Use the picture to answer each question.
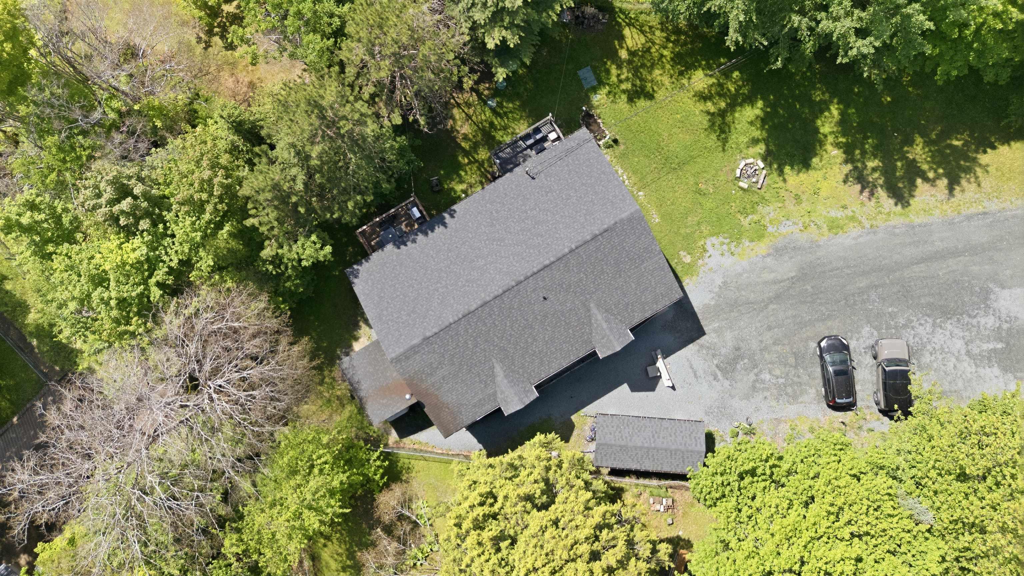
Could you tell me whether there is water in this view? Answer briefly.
No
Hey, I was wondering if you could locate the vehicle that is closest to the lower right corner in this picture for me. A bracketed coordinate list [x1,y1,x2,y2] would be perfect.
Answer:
[871,338,916,412]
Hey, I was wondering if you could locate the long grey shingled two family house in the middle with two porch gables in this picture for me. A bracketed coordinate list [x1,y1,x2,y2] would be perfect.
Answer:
[338,127,684,438]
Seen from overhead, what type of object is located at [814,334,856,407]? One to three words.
car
